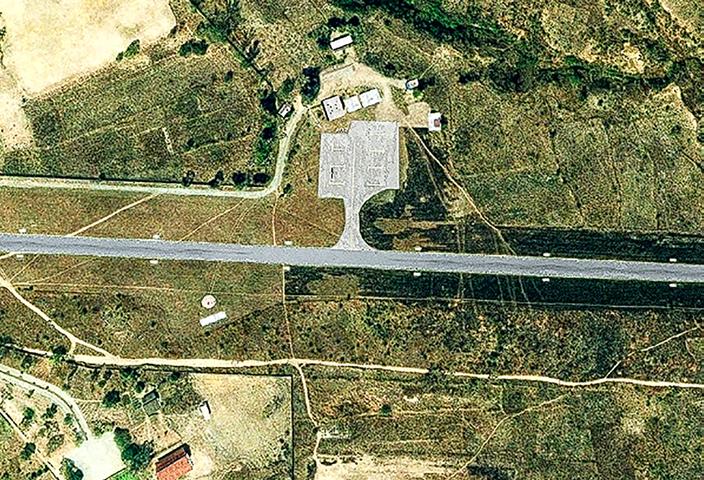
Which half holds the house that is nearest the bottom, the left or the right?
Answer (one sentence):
The house that is nearest the bottom is on the left side of the image.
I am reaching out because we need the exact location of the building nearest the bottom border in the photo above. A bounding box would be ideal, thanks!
[152,448,193,480]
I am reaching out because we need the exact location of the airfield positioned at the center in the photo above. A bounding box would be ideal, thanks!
[0,121,704,283]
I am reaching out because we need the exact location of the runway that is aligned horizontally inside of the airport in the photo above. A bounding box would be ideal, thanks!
[0,234,704,283]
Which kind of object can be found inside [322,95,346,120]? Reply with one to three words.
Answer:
building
